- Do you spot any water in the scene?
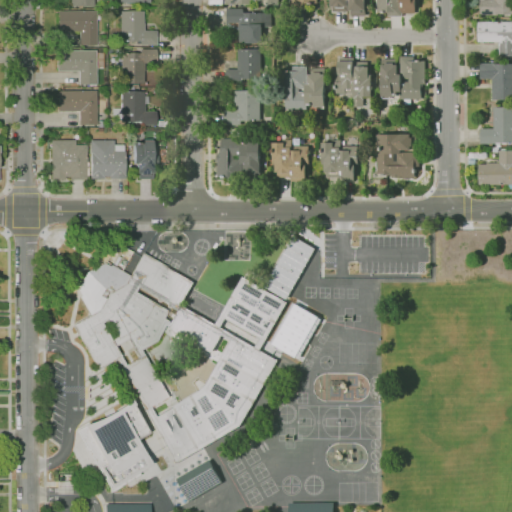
No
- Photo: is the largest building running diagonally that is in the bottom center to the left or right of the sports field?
on its left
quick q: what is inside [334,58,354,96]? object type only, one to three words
house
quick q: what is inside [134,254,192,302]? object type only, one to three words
building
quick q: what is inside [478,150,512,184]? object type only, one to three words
house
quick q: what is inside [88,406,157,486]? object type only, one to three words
building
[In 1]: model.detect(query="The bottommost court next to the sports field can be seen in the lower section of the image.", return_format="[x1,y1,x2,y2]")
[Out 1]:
[338,482,380,503]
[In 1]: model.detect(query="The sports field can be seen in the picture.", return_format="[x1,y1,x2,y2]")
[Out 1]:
[380,282,512,512]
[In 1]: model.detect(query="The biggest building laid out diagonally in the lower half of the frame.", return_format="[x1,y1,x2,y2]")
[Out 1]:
[157,344,276,462]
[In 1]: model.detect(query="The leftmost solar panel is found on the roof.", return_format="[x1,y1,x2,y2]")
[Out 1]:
[96,417,134,452]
